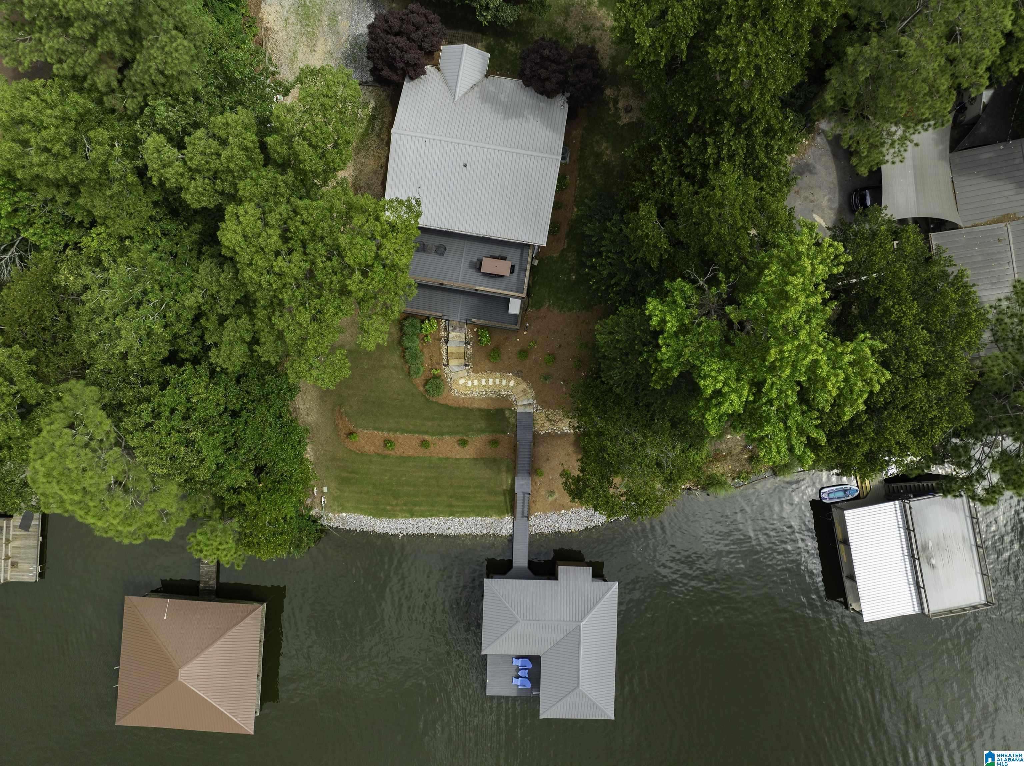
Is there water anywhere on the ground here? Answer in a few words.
Yes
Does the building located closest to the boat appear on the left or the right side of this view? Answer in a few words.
right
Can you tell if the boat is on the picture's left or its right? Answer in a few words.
right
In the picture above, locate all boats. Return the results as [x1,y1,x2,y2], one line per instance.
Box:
[818,483,860,504]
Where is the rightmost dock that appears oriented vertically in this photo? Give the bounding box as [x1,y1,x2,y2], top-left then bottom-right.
[200,533,220,599]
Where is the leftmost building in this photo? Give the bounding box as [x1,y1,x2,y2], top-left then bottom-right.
[114,592,267,737]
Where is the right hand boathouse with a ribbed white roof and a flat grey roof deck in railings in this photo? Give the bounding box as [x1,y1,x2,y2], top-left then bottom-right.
[828,490,994,623]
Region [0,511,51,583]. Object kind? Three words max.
pier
